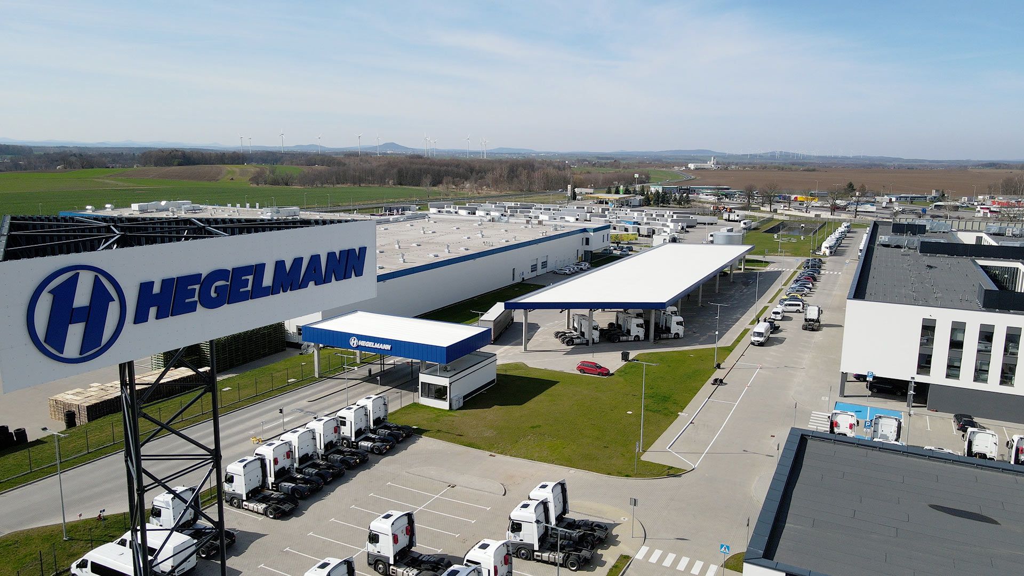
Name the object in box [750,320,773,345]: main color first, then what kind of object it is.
white vehicle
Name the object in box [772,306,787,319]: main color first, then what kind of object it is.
white vehicle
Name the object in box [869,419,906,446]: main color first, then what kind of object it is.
white truck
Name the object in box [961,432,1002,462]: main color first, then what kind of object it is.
white truck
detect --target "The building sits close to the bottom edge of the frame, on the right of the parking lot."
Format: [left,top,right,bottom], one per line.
[743,428,1024,576]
